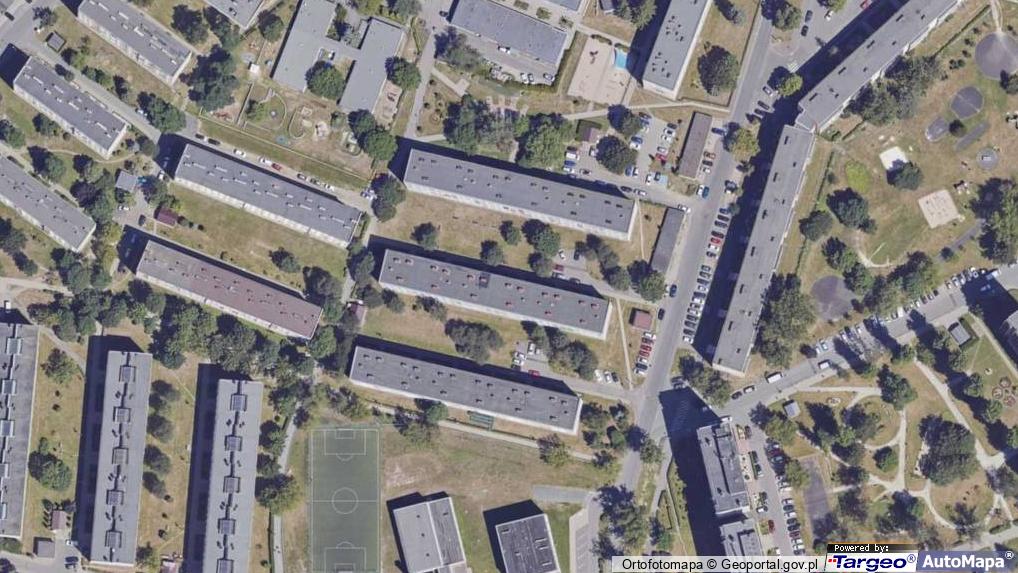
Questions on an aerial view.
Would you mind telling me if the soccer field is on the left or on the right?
left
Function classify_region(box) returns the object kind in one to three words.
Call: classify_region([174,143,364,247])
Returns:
building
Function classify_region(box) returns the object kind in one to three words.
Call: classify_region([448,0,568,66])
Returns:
building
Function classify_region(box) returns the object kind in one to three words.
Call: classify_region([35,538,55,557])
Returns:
shed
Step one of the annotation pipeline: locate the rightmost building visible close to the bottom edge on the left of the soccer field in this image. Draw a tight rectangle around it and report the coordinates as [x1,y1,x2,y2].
[202,376,267,573]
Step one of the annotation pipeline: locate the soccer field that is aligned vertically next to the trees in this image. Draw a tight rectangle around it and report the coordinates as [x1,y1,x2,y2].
[306,423,381,573]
